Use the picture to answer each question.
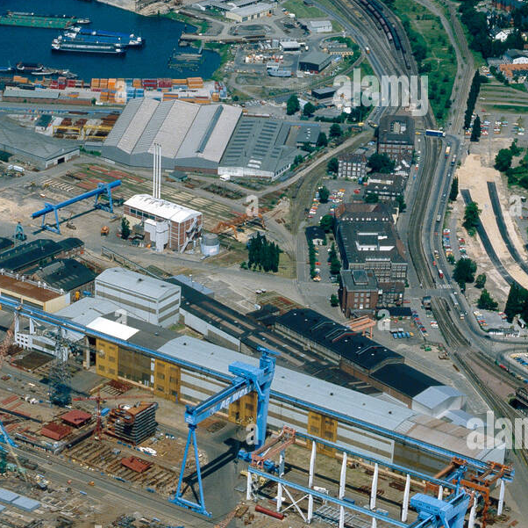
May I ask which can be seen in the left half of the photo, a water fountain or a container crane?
container crane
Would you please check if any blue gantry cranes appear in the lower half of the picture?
Yes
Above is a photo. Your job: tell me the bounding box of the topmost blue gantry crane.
[30,180,123,230]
